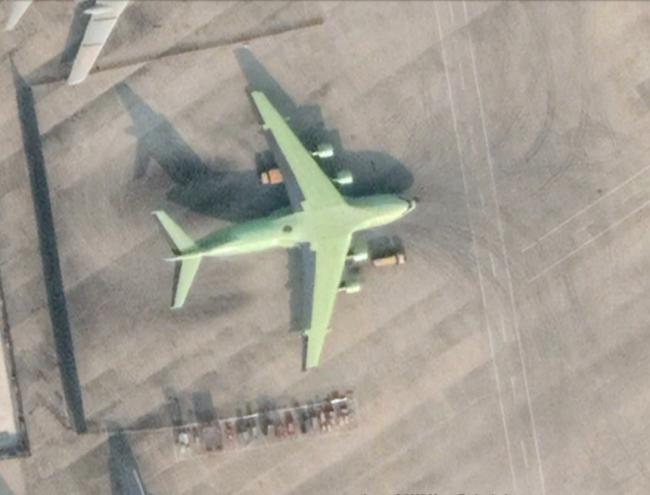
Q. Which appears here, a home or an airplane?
airplane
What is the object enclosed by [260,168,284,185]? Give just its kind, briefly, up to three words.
vehicle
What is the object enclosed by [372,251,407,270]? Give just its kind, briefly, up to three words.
vehicle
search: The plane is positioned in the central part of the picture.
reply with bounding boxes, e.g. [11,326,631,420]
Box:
[149,92,416,369]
